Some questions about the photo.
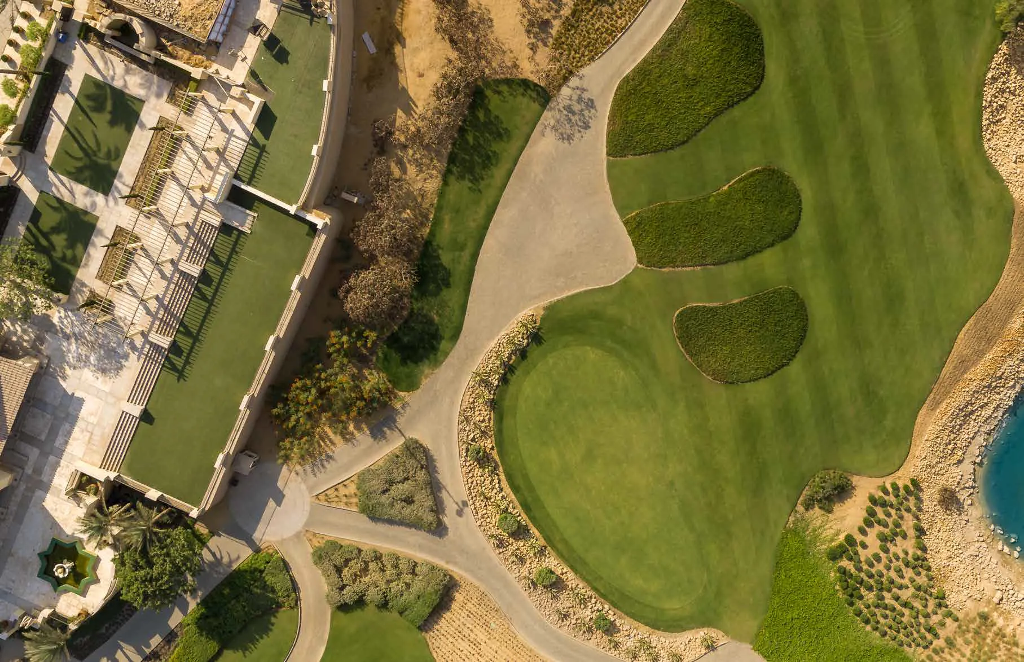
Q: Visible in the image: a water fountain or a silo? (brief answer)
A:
water fountain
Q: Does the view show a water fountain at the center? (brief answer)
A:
No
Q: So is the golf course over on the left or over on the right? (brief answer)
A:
right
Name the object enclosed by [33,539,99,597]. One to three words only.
fountain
